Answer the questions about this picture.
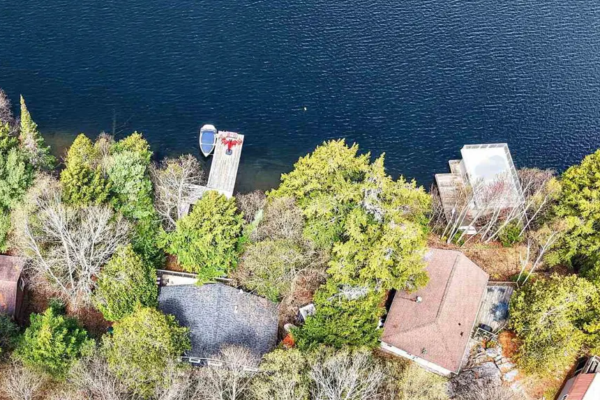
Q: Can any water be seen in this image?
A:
Yes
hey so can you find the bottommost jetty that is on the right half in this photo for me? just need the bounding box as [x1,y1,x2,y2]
[433,174,475,223]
